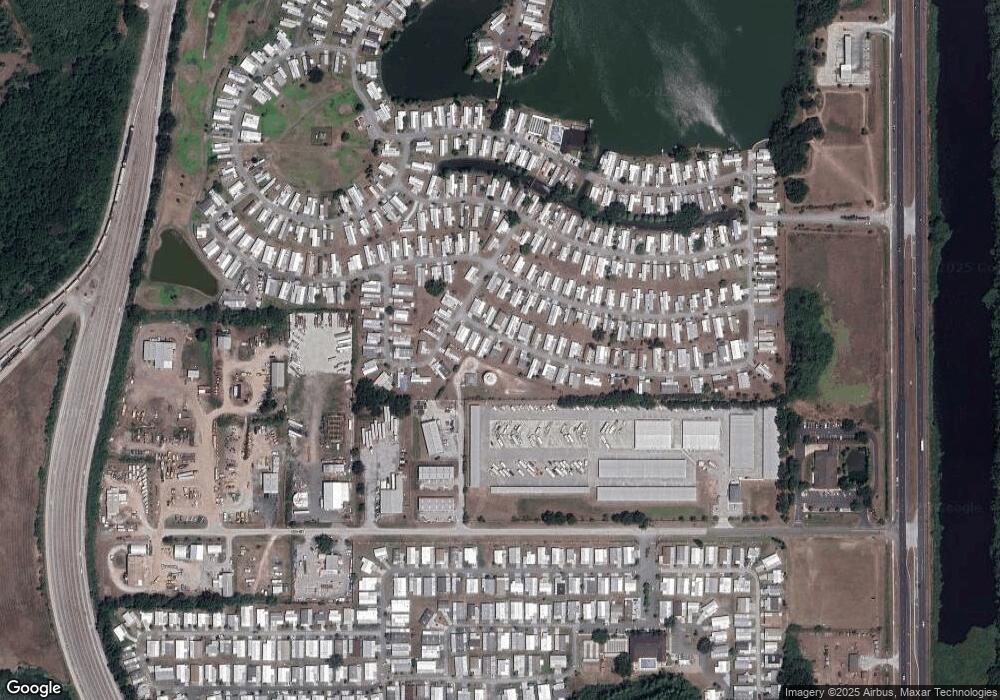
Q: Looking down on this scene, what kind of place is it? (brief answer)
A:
residential area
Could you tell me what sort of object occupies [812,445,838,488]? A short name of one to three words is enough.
building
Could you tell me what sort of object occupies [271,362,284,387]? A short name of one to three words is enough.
barn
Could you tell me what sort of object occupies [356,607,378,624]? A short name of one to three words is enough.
house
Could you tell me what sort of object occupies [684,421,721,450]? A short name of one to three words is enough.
building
